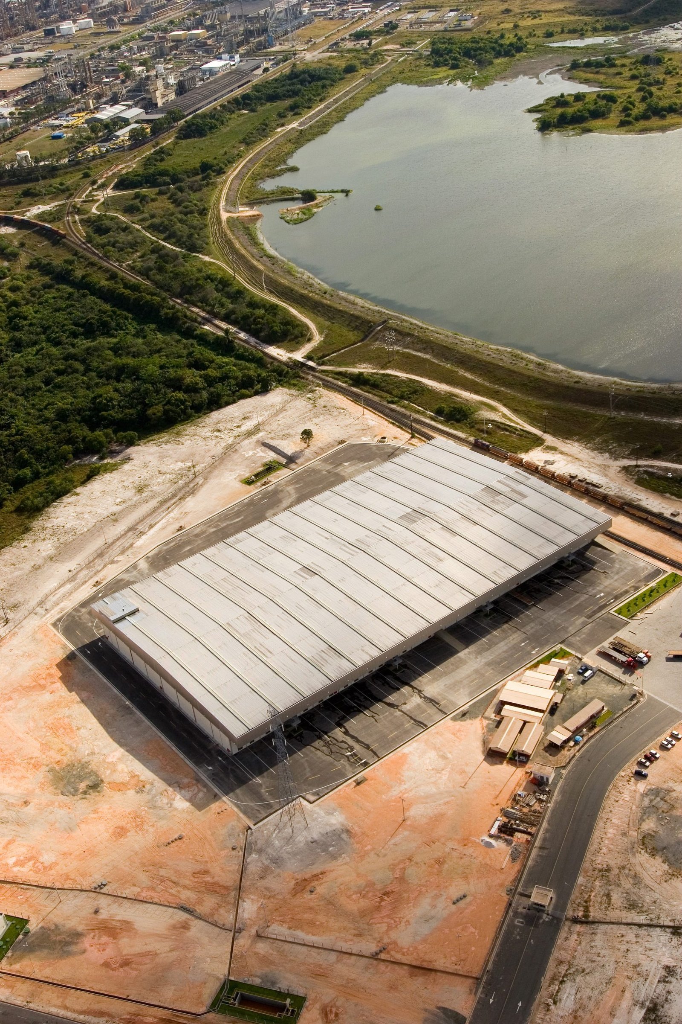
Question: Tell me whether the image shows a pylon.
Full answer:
Yes, a pylon appears in the view.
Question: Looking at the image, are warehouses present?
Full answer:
Yes, you can see a warehouse in this photo.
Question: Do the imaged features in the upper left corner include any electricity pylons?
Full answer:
No, no electricity pylon is visible in the upper left corner.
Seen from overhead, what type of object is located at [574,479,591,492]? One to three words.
rail car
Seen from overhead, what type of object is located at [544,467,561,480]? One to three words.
rail car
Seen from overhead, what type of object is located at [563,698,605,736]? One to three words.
shed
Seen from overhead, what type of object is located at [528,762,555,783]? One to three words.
building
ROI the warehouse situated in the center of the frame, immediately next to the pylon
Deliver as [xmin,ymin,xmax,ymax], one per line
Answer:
[90,437,622,754]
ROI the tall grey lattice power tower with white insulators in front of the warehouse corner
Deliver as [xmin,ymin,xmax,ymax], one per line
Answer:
[268,708,307,833]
